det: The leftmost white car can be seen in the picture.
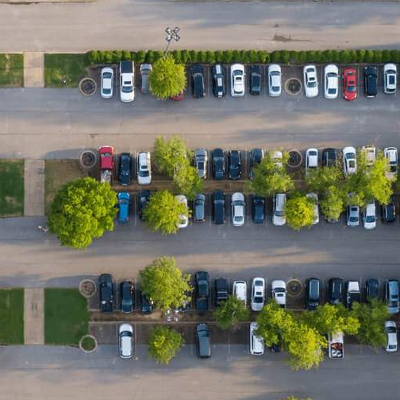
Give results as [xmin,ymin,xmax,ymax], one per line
[98,67,114,99]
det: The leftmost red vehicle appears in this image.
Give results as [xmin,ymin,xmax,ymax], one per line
[98,145,113,183]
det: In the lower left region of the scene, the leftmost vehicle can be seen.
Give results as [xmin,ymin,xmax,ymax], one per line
[98,274,114,312]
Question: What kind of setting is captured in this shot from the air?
parking lot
